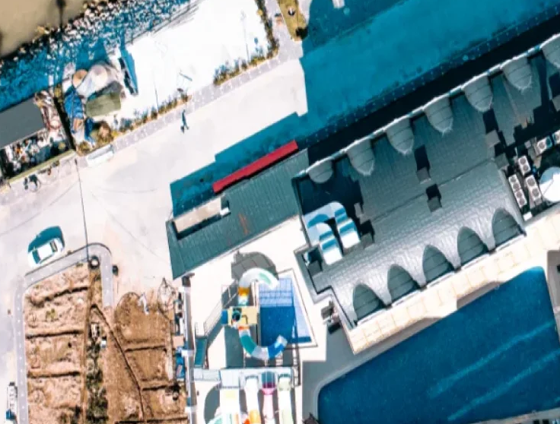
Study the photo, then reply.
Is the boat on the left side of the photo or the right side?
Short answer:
left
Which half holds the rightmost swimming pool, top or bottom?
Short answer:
bottom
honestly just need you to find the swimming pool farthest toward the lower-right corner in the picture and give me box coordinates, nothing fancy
[313,264,560,424]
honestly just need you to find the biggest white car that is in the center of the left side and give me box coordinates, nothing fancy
[23,235,65,265]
